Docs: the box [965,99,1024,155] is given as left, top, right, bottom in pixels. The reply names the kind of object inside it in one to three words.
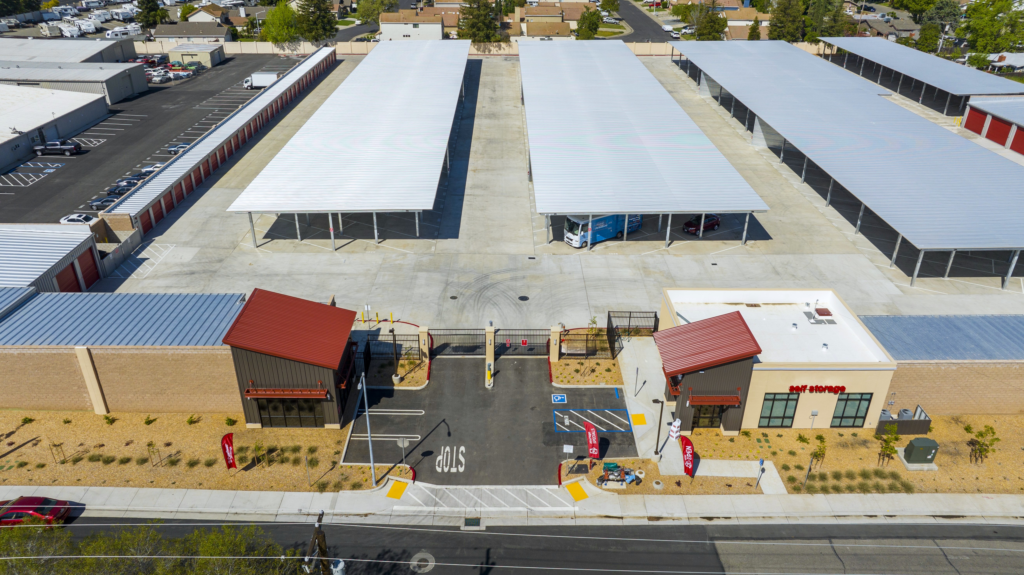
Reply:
building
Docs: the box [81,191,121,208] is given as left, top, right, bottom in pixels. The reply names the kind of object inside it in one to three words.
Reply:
car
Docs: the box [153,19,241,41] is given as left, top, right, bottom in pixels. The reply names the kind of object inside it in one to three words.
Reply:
house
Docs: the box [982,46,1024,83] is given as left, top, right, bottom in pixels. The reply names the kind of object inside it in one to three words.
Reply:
house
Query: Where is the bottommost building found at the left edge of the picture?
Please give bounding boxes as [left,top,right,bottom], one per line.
[0,287,278,414]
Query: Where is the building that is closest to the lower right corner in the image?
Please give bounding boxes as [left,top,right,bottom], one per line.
[854,313,1024,415]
